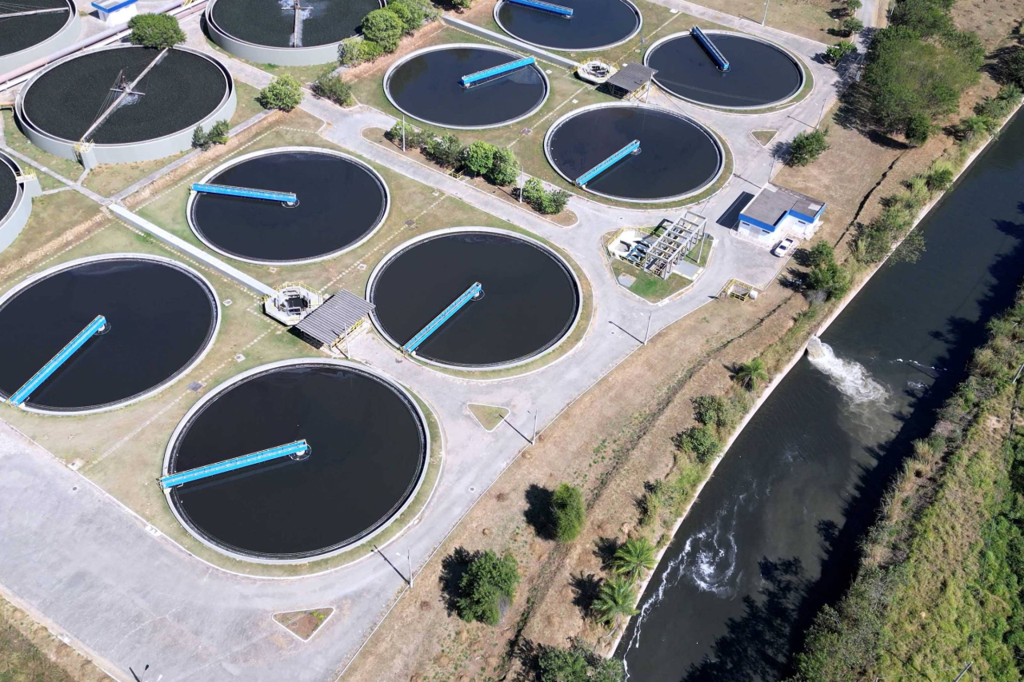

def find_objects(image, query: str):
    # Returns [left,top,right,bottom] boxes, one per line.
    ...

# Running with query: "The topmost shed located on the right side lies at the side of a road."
[607,62,658,108]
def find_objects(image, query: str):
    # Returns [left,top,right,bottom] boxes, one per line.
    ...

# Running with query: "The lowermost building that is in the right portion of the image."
[737,181,825,245]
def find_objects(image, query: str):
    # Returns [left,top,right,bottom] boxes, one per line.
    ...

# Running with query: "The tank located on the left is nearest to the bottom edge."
[155,359,428,564]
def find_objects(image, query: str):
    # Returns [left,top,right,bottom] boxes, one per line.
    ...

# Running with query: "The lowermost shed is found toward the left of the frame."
[296,288,376,361]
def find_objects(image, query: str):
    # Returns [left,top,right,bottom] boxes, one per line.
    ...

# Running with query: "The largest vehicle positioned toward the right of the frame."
[776,232,795,251]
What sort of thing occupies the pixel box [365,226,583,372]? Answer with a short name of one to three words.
storage tank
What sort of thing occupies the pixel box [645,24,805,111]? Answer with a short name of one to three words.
storage tank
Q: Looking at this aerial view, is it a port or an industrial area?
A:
industrial area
